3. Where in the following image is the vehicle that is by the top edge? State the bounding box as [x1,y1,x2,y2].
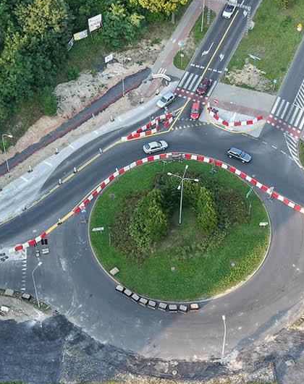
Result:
[222,0,235,19]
